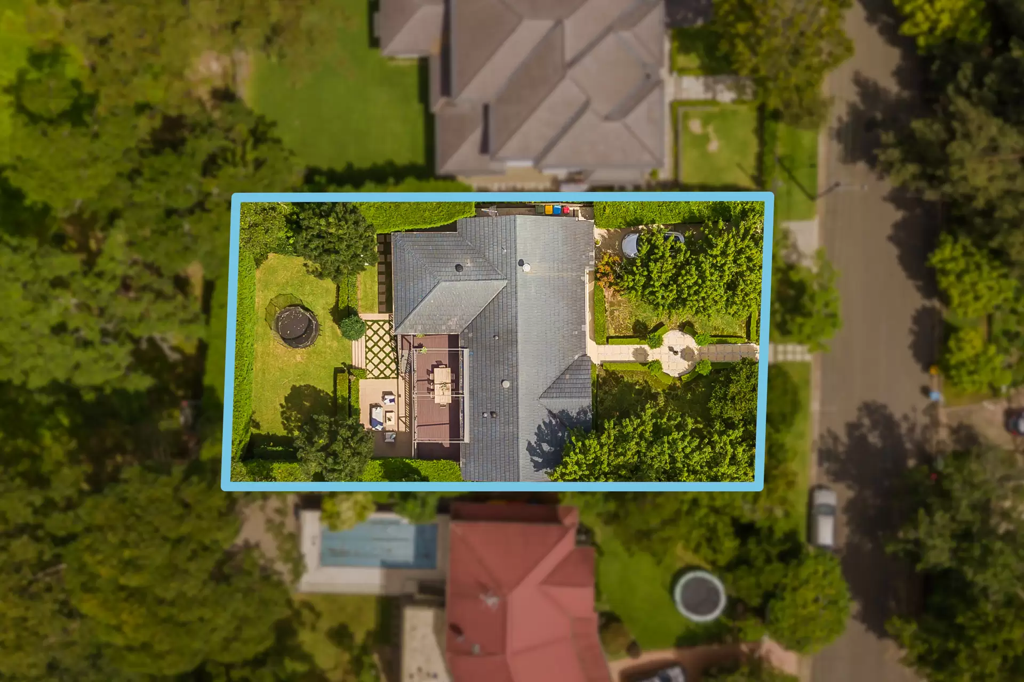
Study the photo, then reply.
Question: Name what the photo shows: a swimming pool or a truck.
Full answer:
There is a swimming pool in the scene.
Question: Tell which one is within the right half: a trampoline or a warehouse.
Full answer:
There is a trampoline within the right half.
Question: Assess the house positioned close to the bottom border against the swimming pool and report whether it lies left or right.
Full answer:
You can see the house positioned close to the bottom border positioned to the right of the swimming pool.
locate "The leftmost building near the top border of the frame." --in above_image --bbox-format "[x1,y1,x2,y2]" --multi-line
[379,0,665,185]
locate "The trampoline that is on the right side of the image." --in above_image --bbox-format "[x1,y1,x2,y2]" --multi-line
[672,567,725,622]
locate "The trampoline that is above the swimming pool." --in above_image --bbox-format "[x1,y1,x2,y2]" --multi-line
[268,303,325,350]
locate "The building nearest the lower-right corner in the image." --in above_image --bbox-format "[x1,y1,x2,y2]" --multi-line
[448,500,603,682]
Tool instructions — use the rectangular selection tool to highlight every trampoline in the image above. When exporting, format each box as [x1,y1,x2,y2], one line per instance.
[672,567,725,622]
[268,303,325,350]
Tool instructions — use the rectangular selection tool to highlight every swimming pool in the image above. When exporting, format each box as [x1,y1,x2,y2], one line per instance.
[300,509,448,592]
